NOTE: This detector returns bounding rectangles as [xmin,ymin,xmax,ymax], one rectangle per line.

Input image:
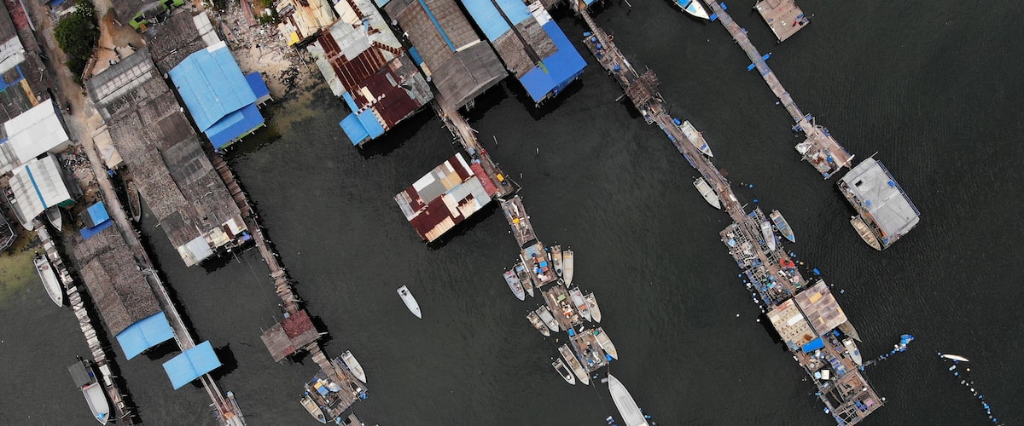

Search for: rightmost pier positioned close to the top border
[707,0,810,134]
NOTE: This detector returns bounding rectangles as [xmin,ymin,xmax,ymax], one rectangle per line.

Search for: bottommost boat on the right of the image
[610,376,654,426]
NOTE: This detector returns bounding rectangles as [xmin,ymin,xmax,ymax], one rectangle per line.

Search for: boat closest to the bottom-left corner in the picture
[69,359,105,425]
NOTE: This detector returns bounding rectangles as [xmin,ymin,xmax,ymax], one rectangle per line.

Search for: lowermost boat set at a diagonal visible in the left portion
[300,396,326,425]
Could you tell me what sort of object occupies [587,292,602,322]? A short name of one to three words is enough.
boat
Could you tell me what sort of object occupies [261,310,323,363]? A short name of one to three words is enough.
shed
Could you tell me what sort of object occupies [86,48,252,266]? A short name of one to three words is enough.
house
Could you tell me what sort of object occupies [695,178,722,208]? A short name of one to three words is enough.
boat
